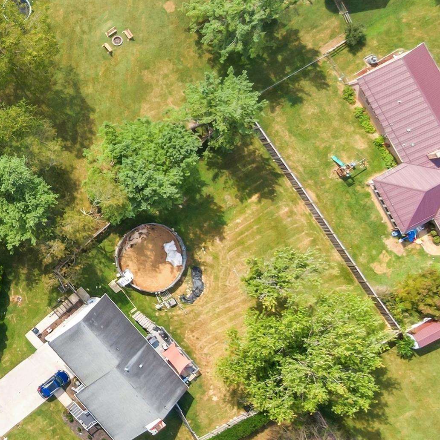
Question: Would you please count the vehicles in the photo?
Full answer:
I count 1 vehicle.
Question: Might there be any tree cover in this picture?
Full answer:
Yes, some tree cover is visible.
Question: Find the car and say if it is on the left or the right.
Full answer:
The car is on the left side of the image.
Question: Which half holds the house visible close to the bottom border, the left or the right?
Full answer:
You can find the house visible close to the bottom border on the left side of the picture.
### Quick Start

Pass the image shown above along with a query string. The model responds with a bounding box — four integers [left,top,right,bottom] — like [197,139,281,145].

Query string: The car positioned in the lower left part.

[37,370,71,400]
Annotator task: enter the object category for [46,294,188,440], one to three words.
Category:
house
